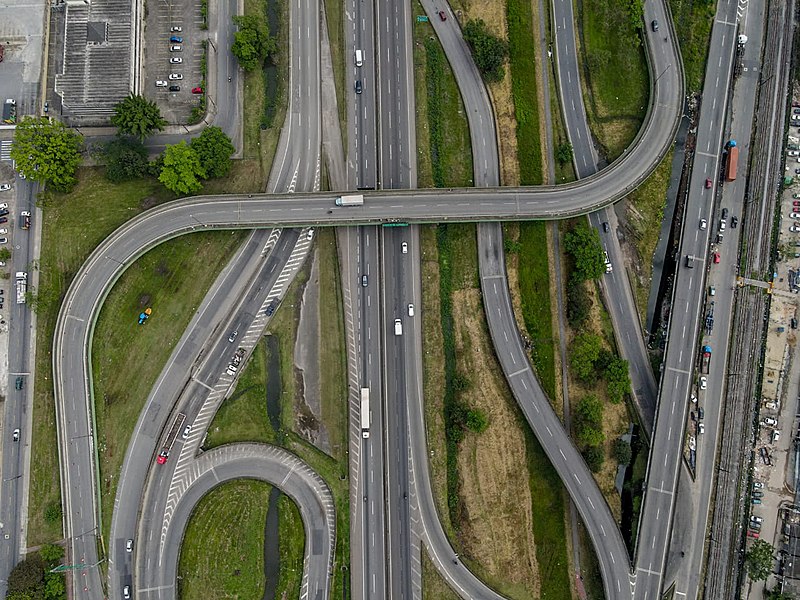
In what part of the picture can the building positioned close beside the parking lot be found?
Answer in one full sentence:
The building positioned close beside the parking lot sits in the top left section of the image.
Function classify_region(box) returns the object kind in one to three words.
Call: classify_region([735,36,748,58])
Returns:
vehicle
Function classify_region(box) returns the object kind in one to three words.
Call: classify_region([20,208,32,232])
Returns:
vehicle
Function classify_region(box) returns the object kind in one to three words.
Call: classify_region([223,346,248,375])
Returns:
truck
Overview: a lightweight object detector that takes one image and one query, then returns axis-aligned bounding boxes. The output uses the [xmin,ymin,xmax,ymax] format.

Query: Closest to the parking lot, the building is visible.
[55,0,143,131]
